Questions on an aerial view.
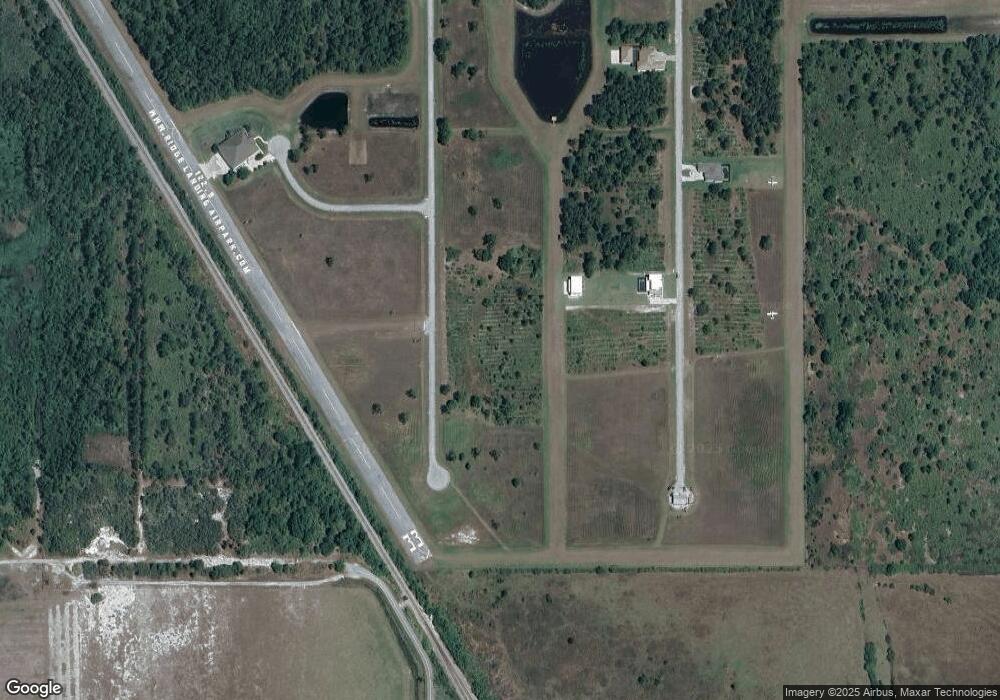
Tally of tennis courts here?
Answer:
0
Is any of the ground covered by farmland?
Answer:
Yes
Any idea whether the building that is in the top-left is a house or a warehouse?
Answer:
house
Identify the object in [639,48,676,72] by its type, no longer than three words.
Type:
house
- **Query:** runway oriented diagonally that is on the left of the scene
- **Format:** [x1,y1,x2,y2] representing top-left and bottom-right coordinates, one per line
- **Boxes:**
[79,0,434,565]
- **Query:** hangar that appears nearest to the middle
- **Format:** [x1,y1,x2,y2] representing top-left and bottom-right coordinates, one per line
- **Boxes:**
[563,276,582,298]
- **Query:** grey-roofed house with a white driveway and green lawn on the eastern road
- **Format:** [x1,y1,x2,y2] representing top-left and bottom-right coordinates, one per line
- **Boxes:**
[683,164,729,183]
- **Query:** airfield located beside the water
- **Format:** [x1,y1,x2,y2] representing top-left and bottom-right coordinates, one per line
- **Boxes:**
[79,0,810,565]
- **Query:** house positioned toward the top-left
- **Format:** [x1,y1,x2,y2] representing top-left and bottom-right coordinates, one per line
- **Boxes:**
[199,131,274,180]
